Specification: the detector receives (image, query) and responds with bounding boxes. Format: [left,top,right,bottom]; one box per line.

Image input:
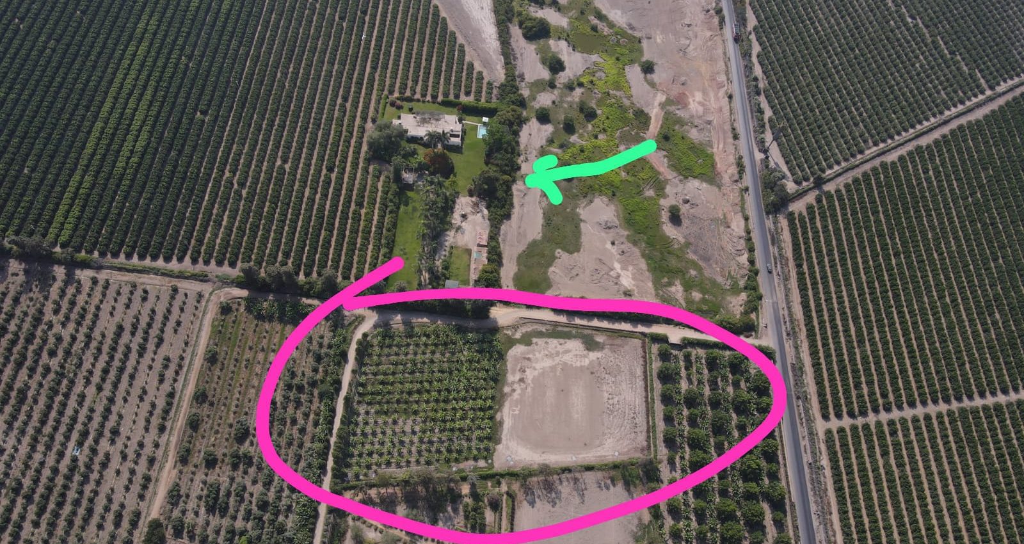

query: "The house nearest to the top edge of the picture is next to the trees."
[393,114,461,147]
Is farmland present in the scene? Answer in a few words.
Yes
